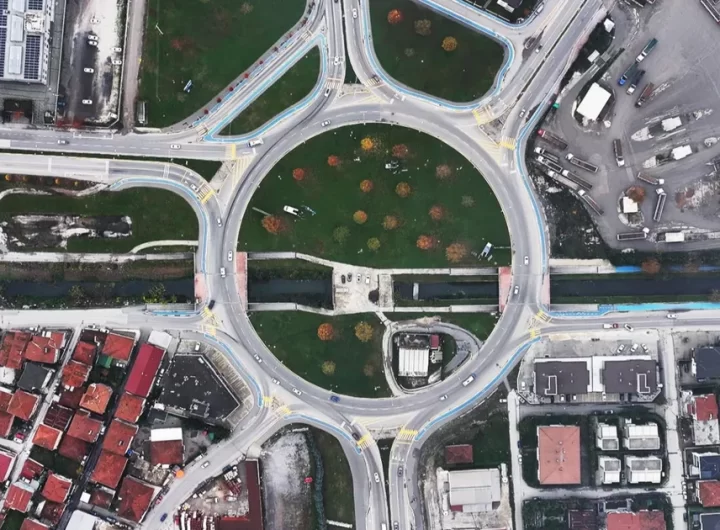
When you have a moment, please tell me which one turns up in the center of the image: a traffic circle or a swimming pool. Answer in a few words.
traffic circle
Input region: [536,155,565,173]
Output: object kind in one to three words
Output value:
vehicle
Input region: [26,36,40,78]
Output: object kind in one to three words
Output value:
solar array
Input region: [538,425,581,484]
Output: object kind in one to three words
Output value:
building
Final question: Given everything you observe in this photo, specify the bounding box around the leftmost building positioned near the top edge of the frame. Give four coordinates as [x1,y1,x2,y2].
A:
[0,0,53,84]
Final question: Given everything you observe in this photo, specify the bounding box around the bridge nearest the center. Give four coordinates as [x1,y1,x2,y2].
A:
[333,263,396,315]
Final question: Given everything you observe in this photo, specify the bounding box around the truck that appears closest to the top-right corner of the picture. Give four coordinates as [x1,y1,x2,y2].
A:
[635,35,662,63]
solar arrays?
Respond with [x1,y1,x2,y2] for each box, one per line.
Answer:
[0,0,8,25]
[0,28,6,77]
[26,36,40,78]
[29,0,42,10]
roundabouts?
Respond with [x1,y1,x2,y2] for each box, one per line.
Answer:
[207,93,541,429]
